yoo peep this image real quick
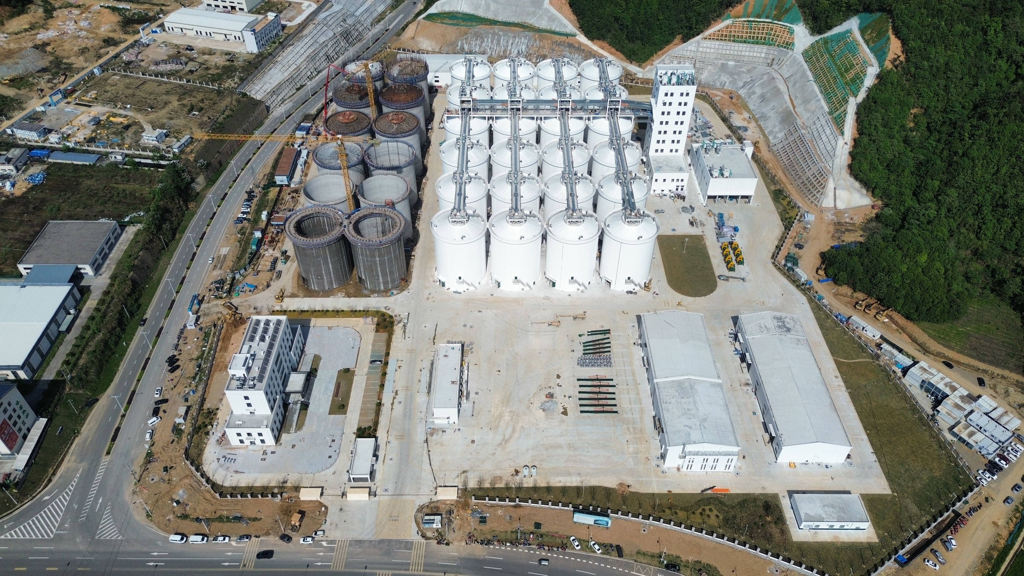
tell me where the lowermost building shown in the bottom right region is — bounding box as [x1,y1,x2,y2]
[792,495,869,530]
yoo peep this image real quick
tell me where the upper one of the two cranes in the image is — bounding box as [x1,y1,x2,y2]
[344,25,427,134]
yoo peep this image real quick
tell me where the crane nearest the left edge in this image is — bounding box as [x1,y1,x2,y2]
[192,131,376,215]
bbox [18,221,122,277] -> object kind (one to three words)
building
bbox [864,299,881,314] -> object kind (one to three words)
work vehicle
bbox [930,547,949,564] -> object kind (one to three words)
vehicle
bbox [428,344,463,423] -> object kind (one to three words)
house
